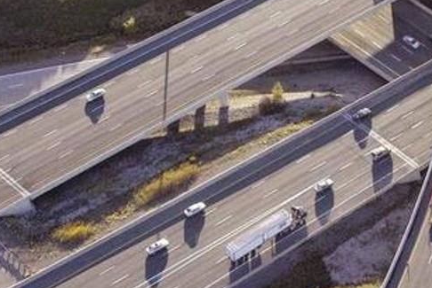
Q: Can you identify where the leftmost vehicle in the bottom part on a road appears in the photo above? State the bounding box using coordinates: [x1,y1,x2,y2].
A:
[144,238,170,256]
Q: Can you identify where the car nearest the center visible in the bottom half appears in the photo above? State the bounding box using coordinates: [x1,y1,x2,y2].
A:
[182,200,207,217]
